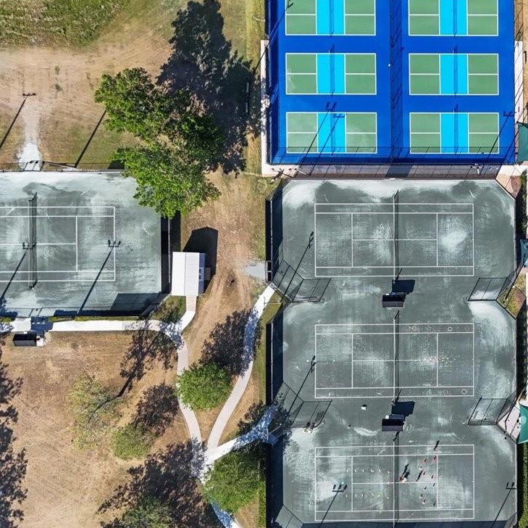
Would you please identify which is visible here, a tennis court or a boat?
tennis court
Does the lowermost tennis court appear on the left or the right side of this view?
right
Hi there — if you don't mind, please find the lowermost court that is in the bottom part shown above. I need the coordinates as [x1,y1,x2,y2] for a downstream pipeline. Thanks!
[315,440,475,528]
